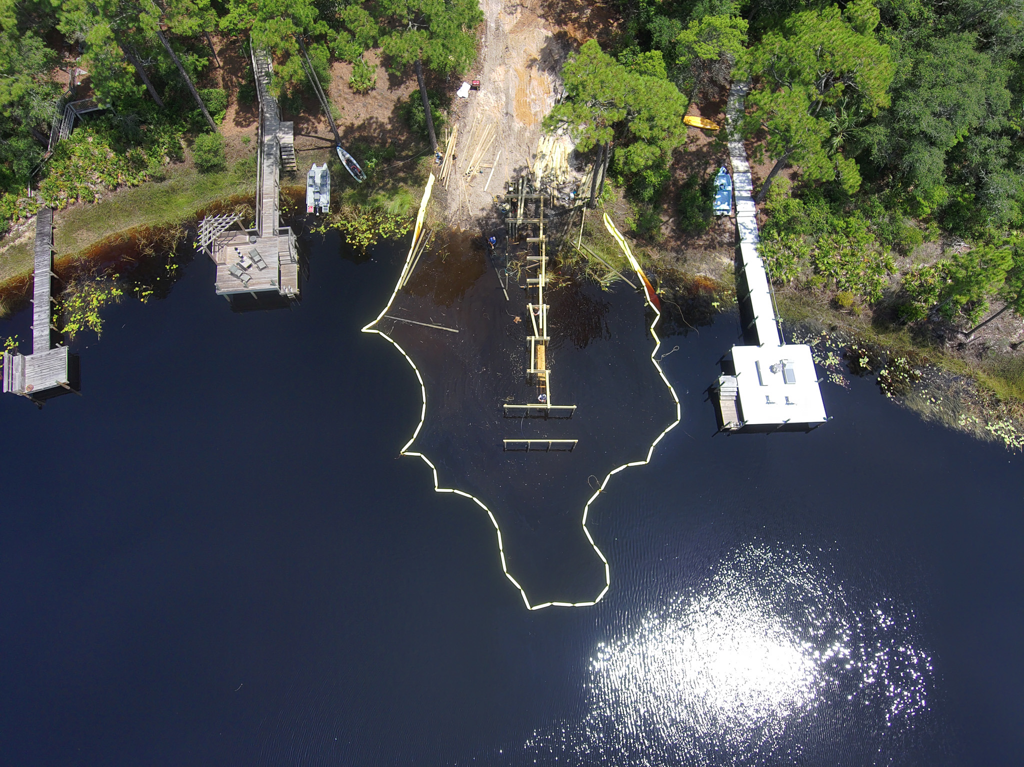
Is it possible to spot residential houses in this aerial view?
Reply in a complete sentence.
No, there's no residential house here.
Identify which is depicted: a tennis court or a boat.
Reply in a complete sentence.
Of the two, only a boat appears.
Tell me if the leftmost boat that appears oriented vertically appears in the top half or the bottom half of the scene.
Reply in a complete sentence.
The leftmost boat that appears oriented vertically sits in the top half of the picture.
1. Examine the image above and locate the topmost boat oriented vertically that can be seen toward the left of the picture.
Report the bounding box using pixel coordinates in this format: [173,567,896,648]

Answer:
[305,160,330,215]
